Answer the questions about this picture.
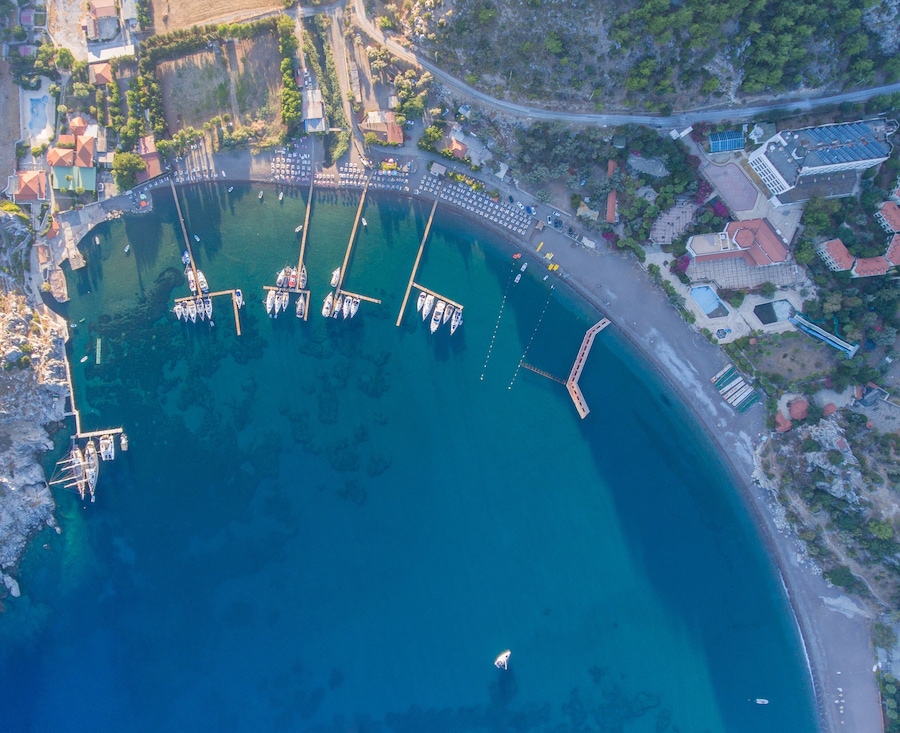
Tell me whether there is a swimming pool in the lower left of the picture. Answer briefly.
No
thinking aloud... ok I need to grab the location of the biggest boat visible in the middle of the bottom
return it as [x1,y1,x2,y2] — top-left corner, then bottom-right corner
[495,650,510,668]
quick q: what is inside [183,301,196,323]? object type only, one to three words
boat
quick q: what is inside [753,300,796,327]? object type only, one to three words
swimming pool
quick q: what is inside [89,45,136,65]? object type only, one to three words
shed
